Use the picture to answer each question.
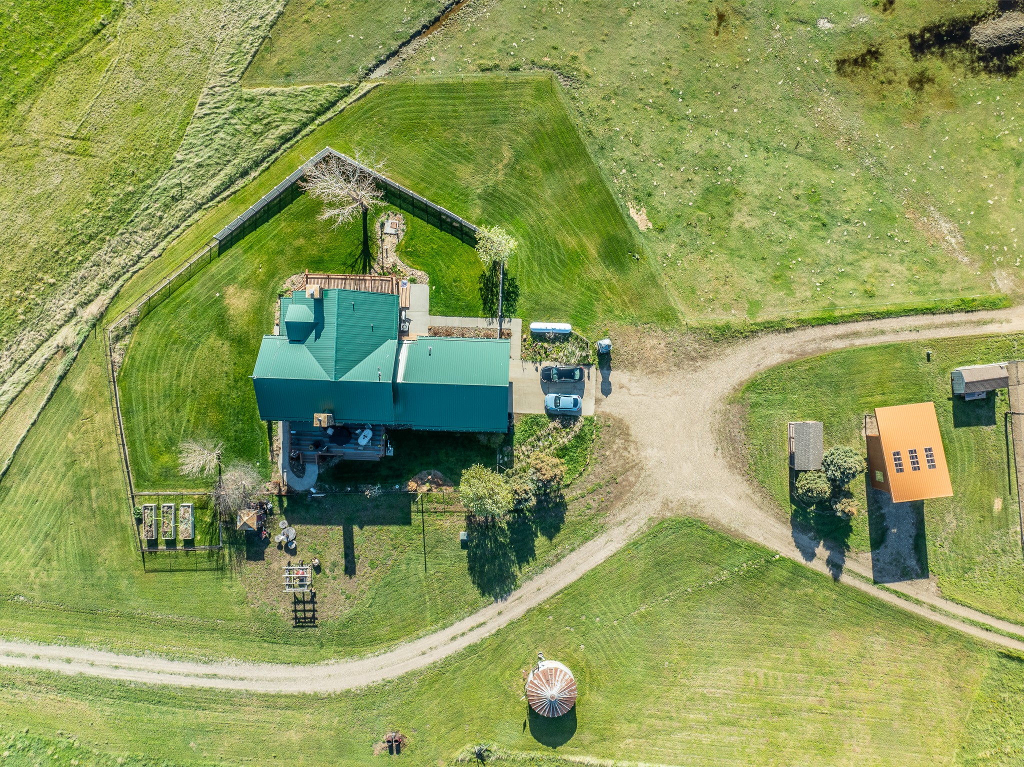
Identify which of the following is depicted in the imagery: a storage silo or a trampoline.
storage silo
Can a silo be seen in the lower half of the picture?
Yes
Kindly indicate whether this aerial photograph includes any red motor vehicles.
No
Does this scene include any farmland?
Yes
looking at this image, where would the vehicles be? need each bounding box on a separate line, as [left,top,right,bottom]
[545,394,581,412]
[541,365,584,384]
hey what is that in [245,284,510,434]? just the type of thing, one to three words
house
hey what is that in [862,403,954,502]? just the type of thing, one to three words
building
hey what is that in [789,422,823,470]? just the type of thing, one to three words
shed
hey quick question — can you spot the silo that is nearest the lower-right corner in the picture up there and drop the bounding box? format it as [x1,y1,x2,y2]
[526,661,578,718]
